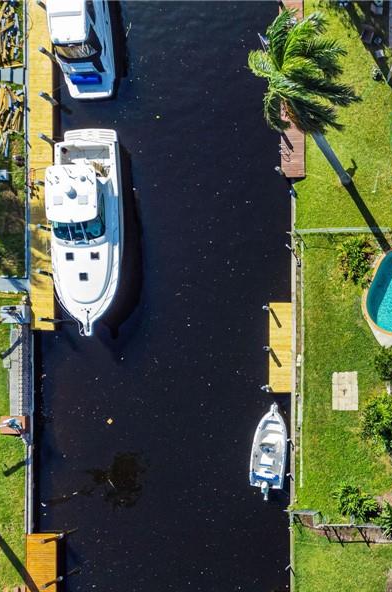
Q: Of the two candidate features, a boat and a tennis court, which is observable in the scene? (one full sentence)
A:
Of the two, only a boat appears.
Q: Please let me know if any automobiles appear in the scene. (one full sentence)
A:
No, no automobile can be seen from above.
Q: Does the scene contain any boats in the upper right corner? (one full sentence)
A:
No, no boat is visible in the upper right corner.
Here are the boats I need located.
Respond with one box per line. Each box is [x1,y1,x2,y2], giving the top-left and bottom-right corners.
[46,128,123,335]
[38,0,119,104]
[251,402,289,501]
